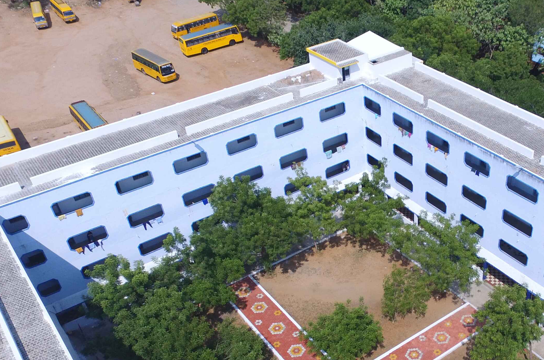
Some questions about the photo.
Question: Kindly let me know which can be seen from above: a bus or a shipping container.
bus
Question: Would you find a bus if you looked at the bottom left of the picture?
No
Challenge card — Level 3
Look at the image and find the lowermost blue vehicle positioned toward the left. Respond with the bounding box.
[68,101,105,129]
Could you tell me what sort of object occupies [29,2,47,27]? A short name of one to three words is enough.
vehicle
